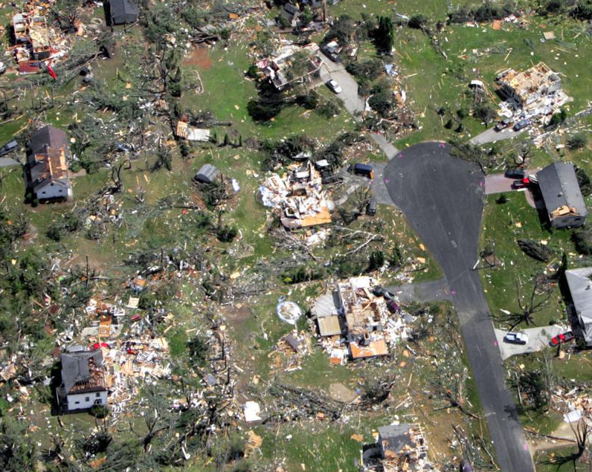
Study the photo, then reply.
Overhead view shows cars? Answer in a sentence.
Yes, the picture does show a car.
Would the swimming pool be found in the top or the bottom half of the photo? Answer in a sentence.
The bottom half of the photo is where the swimming pool is.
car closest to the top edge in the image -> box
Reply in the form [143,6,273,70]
[325,43,342,60]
